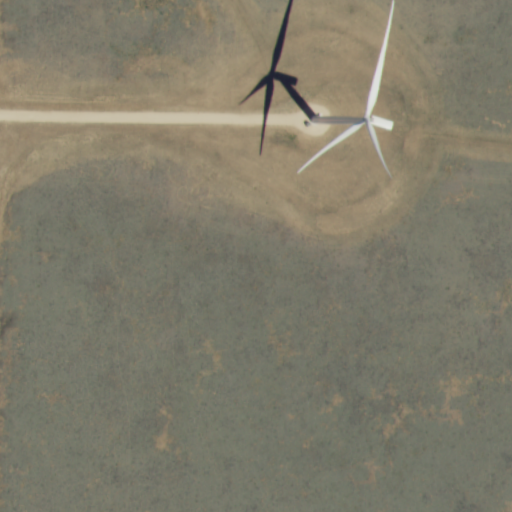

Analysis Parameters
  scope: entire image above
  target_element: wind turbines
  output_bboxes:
[298,0,394,177]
